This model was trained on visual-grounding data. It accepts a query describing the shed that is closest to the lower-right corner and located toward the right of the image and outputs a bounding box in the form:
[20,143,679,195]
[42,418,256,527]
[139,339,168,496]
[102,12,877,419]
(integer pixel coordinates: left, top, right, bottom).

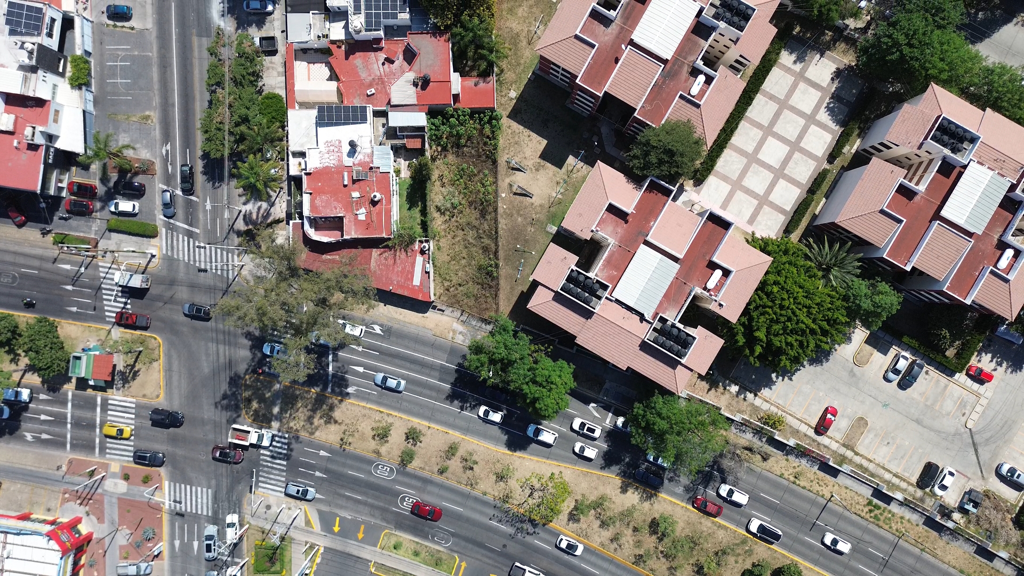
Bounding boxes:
[949,486,983,513]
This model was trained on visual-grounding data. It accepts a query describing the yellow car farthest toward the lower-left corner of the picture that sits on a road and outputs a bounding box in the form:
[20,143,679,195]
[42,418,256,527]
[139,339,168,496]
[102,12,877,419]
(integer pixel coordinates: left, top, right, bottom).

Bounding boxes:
[103,423,135,439]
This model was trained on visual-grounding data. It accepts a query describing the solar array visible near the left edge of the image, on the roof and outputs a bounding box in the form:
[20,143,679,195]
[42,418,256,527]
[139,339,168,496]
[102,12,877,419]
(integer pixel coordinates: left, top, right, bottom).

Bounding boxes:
[4,0,44,32]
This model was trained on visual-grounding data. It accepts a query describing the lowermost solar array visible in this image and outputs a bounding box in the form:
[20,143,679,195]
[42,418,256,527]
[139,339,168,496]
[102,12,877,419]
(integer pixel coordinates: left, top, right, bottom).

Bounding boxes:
[316,105,368,122]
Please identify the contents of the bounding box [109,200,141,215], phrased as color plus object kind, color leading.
white car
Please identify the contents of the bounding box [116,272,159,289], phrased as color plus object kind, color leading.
white vehicle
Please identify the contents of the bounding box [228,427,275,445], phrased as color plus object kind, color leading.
white vehicle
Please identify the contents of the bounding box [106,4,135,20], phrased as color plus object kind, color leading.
blue car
